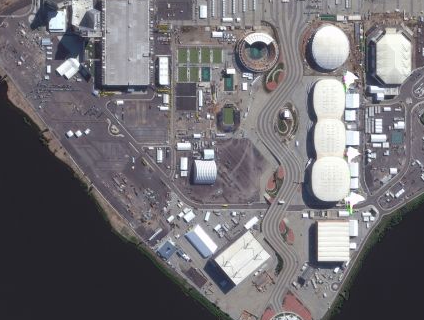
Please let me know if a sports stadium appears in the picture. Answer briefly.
Yes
